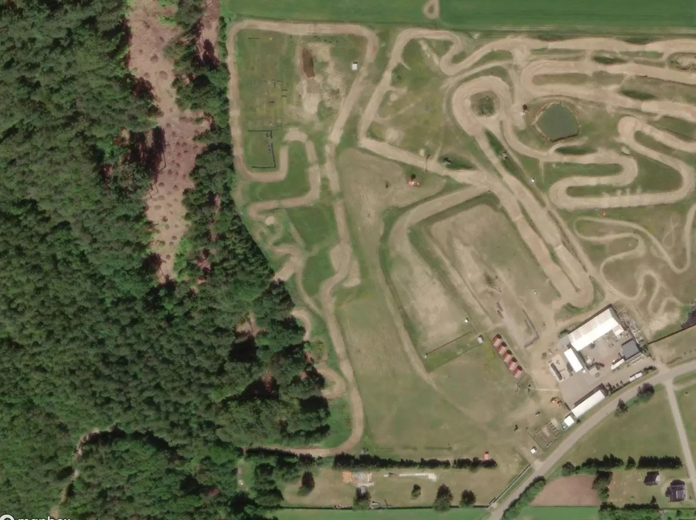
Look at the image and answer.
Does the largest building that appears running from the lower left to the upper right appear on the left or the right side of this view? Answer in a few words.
right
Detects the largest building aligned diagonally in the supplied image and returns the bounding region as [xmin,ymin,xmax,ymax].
[568,309,621,350]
